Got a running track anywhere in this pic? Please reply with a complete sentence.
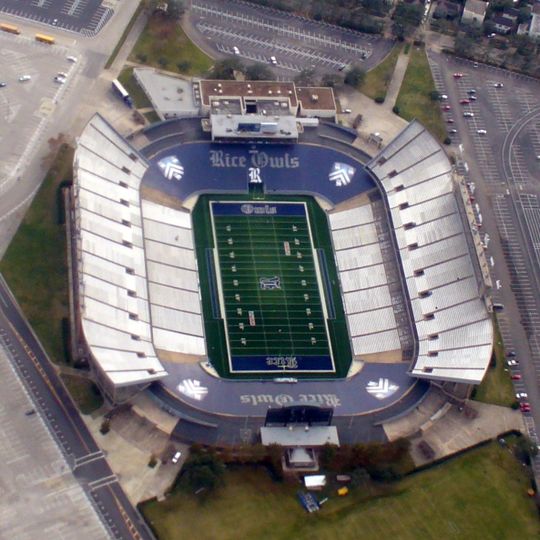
No, there appears to be no running track in this shot.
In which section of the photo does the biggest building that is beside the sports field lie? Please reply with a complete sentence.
You can find the biggest building that is beside the sports field in the top area of the picture.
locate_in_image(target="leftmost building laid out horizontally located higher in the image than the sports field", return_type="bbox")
[193,80,335,144]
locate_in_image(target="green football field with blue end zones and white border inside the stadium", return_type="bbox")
[193,194,353,380]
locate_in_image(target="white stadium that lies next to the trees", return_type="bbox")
[65,109,499,447]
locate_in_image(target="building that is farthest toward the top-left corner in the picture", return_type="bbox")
[133,67,198,119]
